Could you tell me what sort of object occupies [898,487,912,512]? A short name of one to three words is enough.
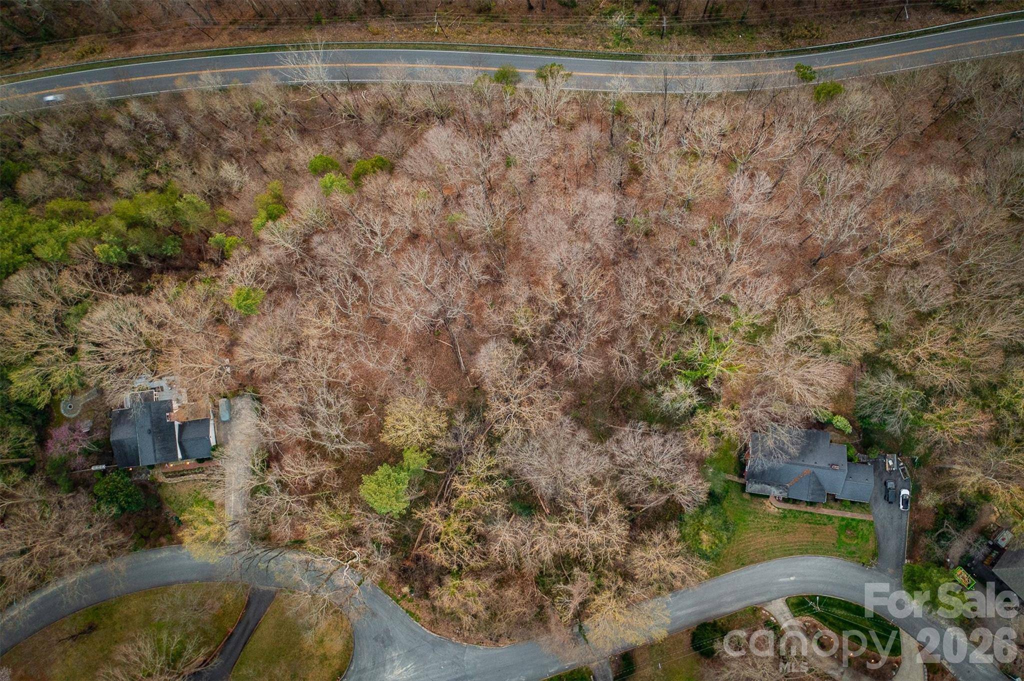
car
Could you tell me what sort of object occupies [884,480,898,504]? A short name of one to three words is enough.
car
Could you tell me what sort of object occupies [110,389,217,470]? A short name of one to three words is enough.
house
